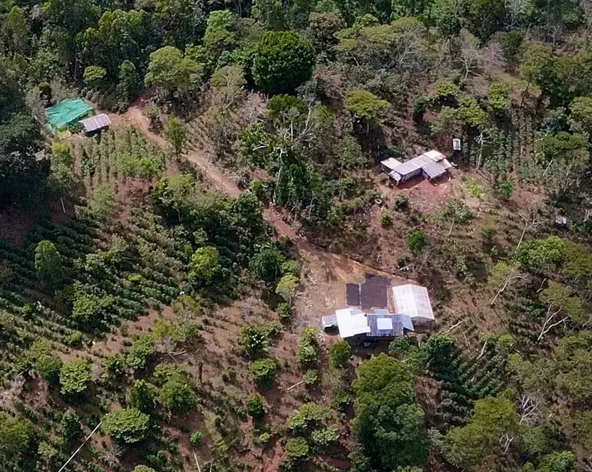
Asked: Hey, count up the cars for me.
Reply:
zero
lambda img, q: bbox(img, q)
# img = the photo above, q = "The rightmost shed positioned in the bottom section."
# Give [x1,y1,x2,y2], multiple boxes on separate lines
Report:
[390,285,434,332]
